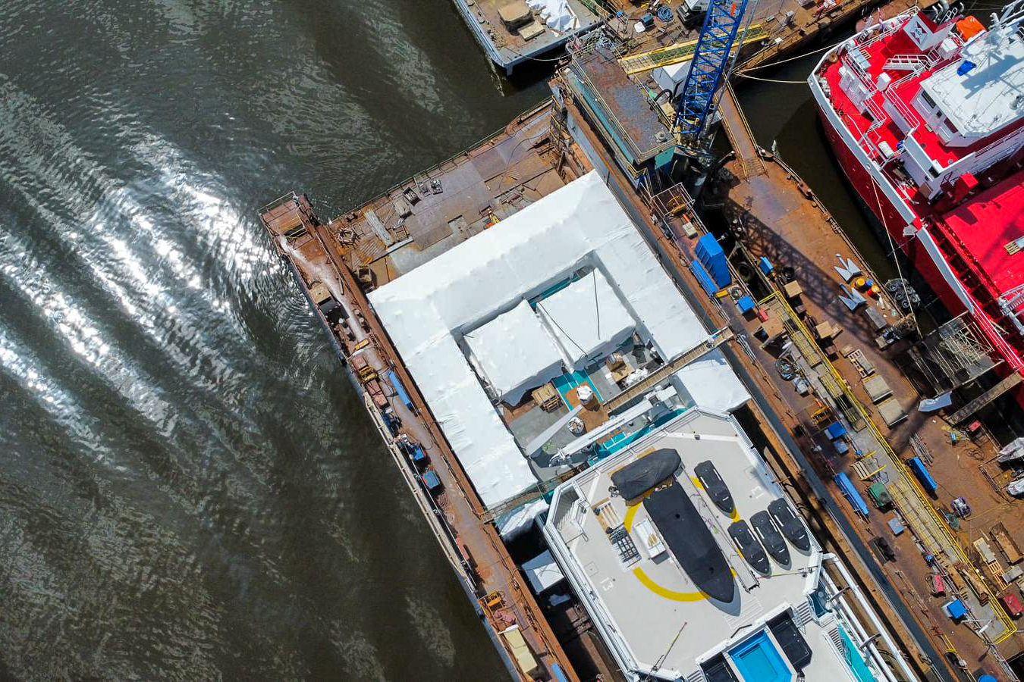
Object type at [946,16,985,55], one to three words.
boat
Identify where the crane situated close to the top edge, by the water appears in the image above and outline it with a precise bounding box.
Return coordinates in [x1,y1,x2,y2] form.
[645,0,754,184]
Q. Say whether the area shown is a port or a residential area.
port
